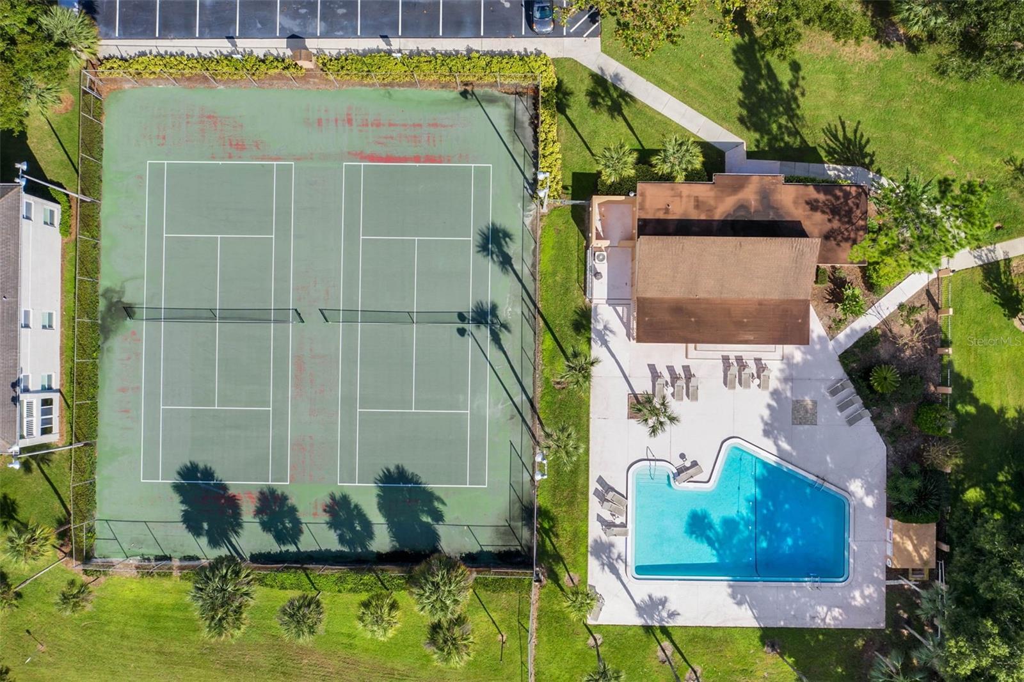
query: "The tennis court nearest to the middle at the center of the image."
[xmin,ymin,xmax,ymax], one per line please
[338,163,492,488]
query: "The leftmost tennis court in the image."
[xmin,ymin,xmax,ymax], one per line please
[141,161,294,484]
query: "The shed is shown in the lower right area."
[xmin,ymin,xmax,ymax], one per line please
[886,518,937,568]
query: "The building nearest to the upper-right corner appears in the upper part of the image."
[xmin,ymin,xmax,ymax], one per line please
[587,174,868,360]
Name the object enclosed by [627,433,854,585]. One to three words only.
swimming pool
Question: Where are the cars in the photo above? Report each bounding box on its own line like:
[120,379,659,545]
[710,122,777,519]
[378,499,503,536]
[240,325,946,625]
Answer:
[529,0,558,33]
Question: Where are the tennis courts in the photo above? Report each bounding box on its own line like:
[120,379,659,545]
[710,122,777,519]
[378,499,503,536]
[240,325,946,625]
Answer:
[338,163,492,488]
[141,161,294,484]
